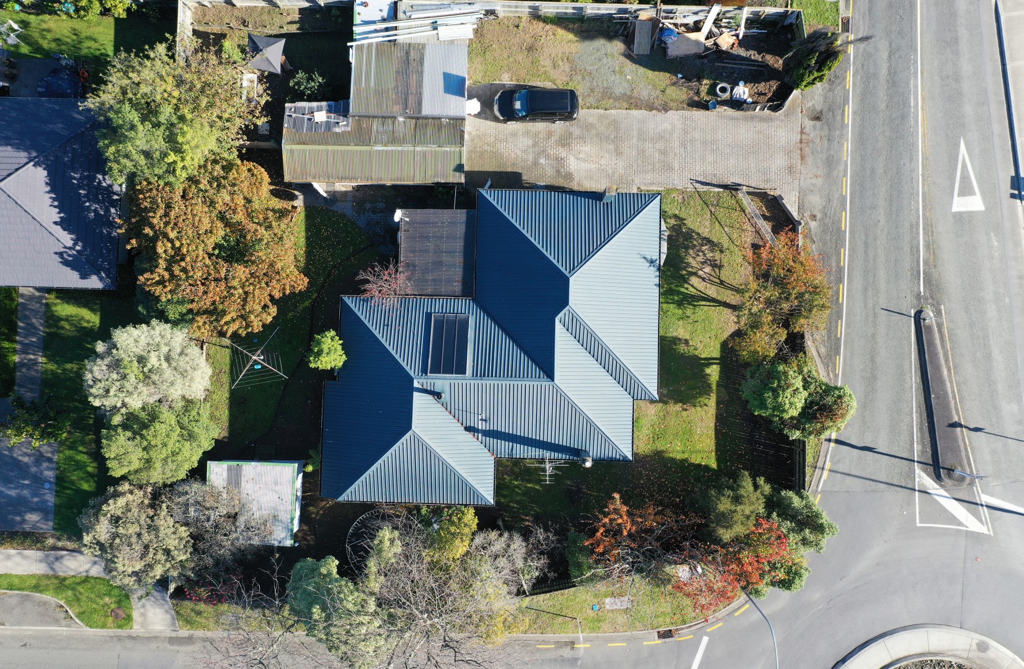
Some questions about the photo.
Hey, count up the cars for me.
1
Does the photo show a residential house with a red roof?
No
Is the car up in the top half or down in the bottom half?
top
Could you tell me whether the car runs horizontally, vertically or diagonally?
horizontally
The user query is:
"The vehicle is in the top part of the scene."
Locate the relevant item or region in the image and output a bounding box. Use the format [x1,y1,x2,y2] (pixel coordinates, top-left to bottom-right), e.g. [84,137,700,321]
[495,81,581,125]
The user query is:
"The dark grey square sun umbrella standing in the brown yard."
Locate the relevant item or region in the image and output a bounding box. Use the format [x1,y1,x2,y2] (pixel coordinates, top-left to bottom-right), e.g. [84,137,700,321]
[247,32,286,73]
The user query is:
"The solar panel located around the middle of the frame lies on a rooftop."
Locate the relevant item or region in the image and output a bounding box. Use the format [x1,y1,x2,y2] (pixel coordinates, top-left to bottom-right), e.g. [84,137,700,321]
[427,314,476,375]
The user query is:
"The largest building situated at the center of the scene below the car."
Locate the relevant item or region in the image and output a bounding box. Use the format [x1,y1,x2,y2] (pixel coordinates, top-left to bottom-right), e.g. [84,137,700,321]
[319,181,665,507]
